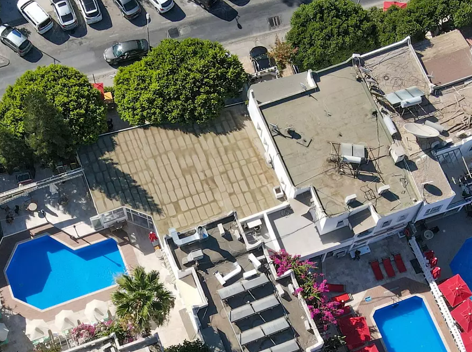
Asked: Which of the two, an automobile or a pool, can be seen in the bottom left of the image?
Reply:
pool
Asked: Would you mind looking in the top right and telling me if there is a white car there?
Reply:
No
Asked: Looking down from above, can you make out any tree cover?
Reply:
Yes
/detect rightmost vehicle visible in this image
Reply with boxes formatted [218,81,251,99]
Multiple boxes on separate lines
[250,47,274,83]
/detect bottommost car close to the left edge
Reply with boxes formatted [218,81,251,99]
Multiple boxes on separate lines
[0,24,35,61]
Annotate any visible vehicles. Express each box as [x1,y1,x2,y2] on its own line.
[250,47,274,83]
[149,0,175,15]
[16,0,56,37]
[76,0,103,27]
[103,39,149,67]
[52,0,82,33]
[114,0,141,22]
[0,24,35,61]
